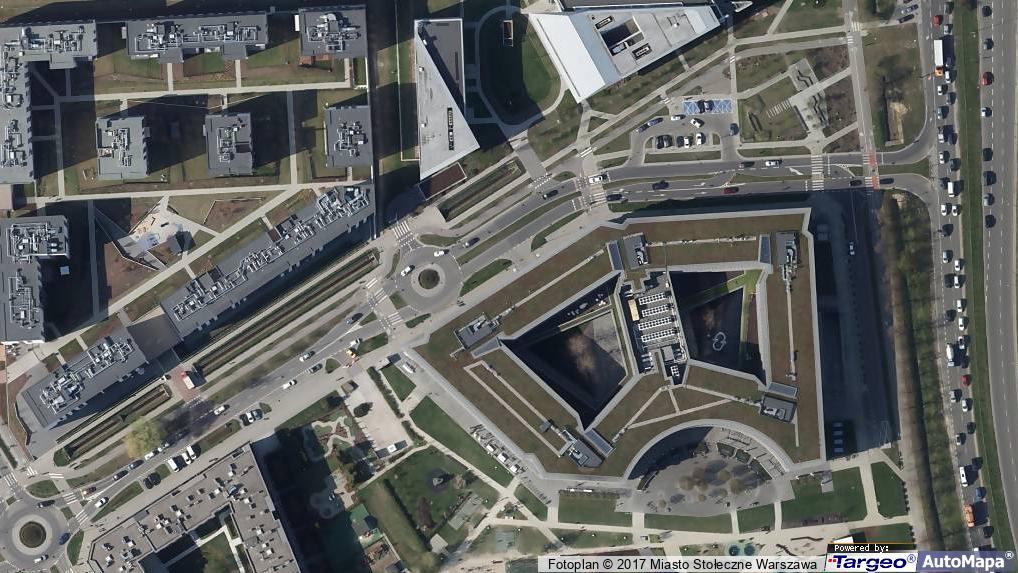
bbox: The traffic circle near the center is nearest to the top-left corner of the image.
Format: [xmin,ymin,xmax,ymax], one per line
[412,261,446,295]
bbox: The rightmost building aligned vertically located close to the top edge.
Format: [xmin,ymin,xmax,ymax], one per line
[415,18,480,180]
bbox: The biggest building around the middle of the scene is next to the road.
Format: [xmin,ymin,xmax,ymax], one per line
[404,208,826,480]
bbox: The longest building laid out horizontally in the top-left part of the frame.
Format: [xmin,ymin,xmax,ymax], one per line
[121,10,270,63]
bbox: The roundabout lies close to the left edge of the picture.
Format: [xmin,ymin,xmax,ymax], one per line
[13,515,53,555]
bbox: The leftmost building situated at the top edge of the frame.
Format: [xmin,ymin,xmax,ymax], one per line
[0,19,101,185]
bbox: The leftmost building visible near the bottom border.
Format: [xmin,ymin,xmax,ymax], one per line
[88,441,305,573]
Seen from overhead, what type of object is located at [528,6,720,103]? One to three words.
building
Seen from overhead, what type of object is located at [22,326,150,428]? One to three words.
building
